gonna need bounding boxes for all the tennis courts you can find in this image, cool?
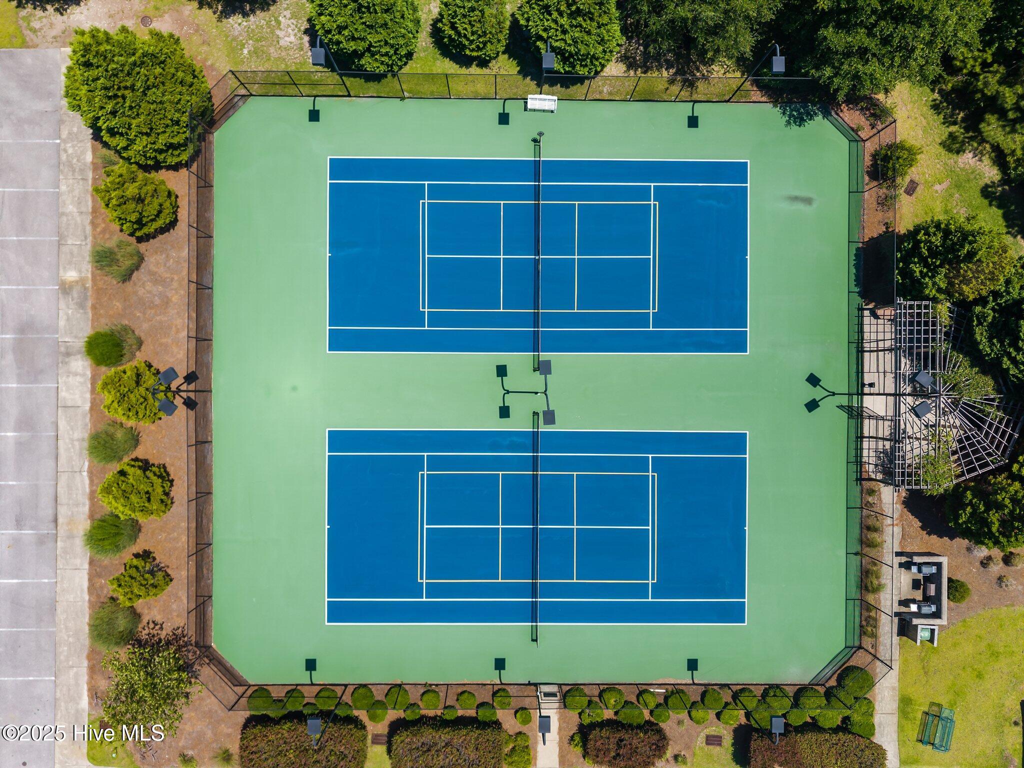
[327,157,749,354]
[325,429,749,625]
